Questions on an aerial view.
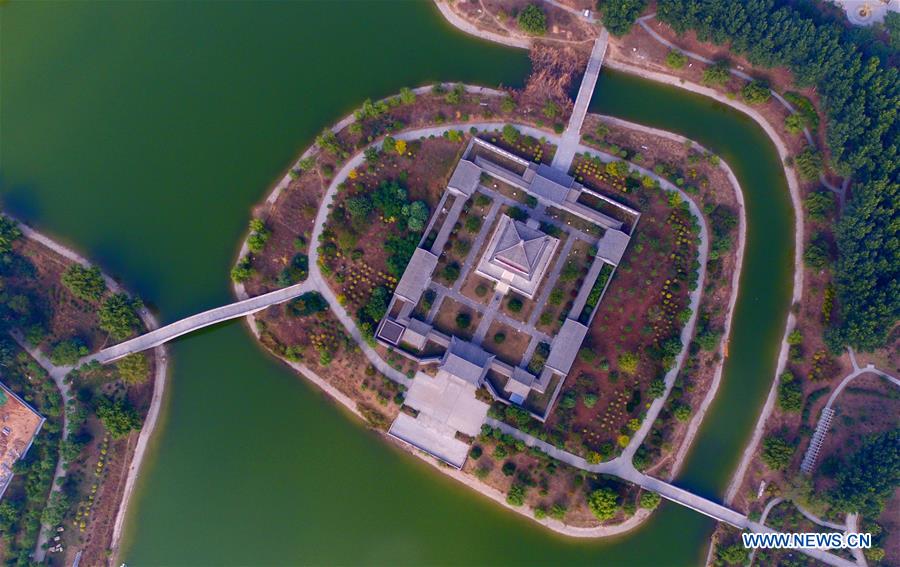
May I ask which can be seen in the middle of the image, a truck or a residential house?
residential house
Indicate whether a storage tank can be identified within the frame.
No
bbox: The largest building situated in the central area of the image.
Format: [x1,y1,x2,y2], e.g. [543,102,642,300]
[475,214,560,300]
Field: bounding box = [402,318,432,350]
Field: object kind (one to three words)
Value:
house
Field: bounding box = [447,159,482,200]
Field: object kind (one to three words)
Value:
building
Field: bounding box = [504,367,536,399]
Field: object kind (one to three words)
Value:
house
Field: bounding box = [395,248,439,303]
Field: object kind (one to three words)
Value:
building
